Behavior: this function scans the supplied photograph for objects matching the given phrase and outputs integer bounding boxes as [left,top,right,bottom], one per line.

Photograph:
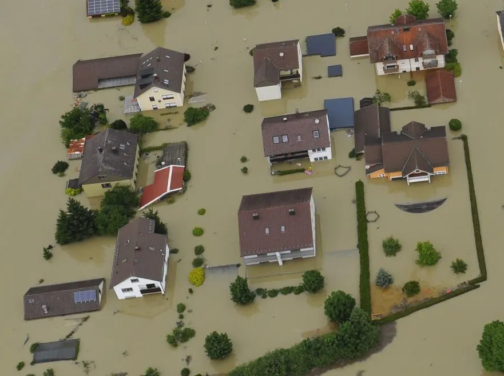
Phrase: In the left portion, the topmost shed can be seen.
[87,0,121,18]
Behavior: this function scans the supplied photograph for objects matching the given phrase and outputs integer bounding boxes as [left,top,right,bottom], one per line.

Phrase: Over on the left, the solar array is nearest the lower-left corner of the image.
[75,290,97,303]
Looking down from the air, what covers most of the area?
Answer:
water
